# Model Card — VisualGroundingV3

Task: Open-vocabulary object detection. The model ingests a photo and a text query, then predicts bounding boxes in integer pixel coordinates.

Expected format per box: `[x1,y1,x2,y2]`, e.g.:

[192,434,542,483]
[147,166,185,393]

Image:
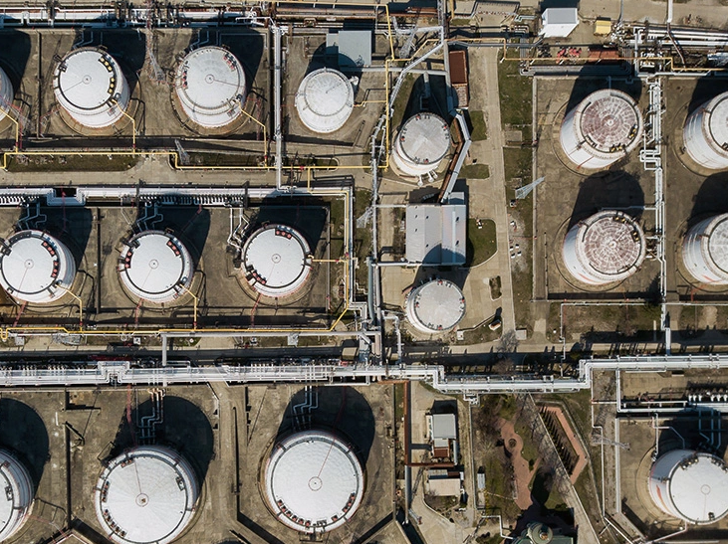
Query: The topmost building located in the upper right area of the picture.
[537,7,578,34]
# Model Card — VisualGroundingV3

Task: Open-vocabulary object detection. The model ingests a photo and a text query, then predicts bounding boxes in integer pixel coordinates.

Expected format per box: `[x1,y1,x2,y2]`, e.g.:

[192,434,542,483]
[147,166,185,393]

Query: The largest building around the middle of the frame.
[404,203,465,264]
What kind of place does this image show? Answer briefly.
industrial area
